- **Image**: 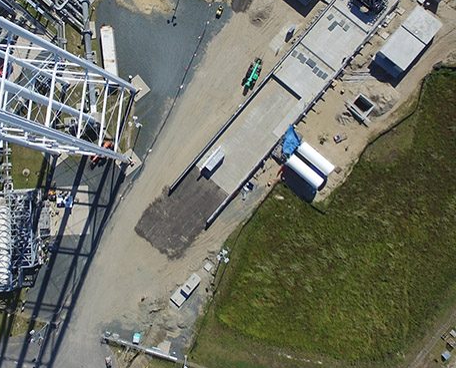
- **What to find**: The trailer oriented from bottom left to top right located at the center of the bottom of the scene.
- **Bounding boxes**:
[166,270,202,310]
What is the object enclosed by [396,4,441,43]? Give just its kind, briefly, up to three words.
building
